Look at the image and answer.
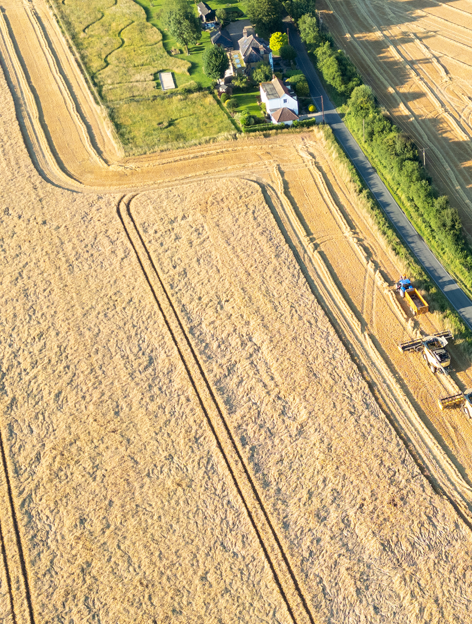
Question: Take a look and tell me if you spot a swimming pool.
No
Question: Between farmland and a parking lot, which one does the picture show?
farmland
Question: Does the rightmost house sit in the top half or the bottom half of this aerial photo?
top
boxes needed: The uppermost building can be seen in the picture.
[195,0,217,22]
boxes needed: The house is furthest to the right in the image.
[259,71,302,128]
